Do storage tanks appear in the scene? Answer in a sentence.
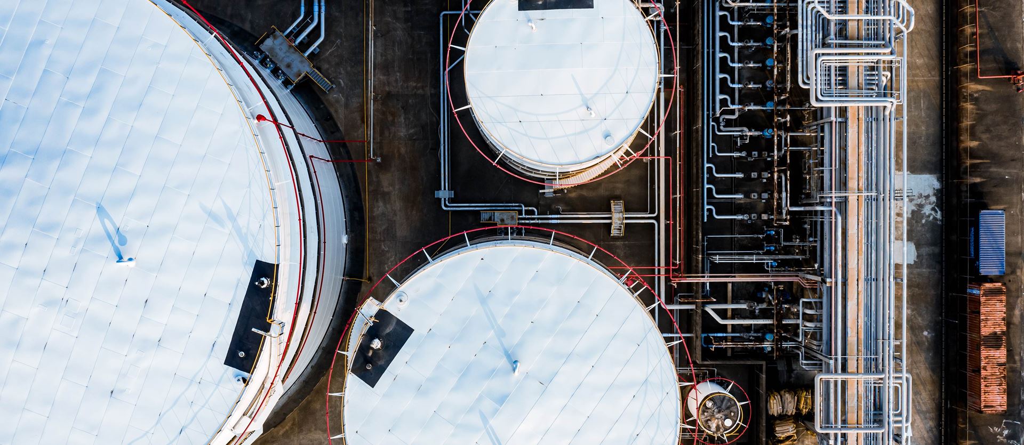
Yes, a storage tank is visible in the scene.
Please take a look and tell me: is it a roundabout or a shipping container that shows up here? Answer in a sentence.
Visible in the photo is a shipping container.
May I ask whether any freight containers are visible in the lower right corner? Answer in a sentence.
Yes, in the lower right corner there is a freight container.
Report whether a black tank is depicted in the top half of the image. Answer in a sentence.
No, I can find no black tank in the top half of the image.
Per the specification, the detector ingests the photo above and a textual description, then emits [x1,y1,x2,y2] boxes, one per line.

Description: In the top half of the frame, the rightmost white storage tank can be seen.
[447,0,677,199]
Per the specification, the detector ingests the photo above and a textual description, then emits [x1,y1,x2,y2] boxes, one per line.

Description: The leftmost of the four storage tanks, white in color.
[0,0,370,445]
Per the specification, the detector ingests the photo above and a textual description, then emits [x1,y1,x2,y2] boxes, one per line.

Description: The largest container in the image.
[968,281,1007,413]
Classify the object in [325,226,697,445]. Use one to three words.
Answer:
storage tank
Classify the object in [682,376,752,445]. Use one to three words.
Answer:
storage tank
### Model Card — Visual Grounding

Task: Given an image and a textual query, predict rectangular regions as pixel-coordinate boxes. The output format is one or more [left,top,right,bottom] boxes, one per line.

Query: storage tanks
[682,376,752,445]
[0,0,370,445]
[447,0,677,199]
[325,226,697,445]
